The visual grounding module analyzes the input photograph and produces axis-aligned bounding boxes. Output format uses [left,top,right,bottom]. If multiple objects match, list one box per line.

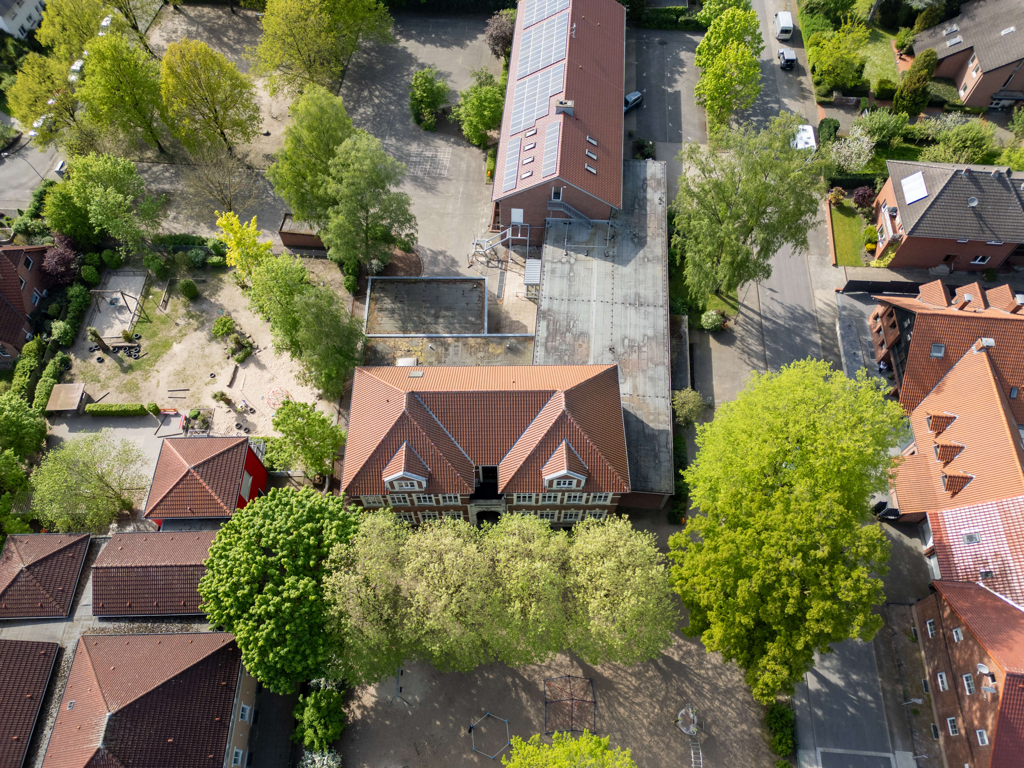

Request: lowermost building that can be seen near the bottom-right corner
[910,579,1024,768]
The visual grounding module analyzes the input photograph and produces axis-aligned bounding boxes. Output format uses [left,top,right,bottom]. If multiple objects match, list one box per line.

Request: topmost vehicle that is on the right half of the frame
[774,2,799,38]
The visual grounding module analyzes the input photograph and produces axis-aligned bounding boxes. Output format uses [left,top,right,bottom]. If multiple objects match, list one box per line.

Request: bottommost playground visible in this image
[53,254,352,503]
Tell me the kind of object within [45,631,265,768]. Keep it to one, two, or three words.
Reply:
house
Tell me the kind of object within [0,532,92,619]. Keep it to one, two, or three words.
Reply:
house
